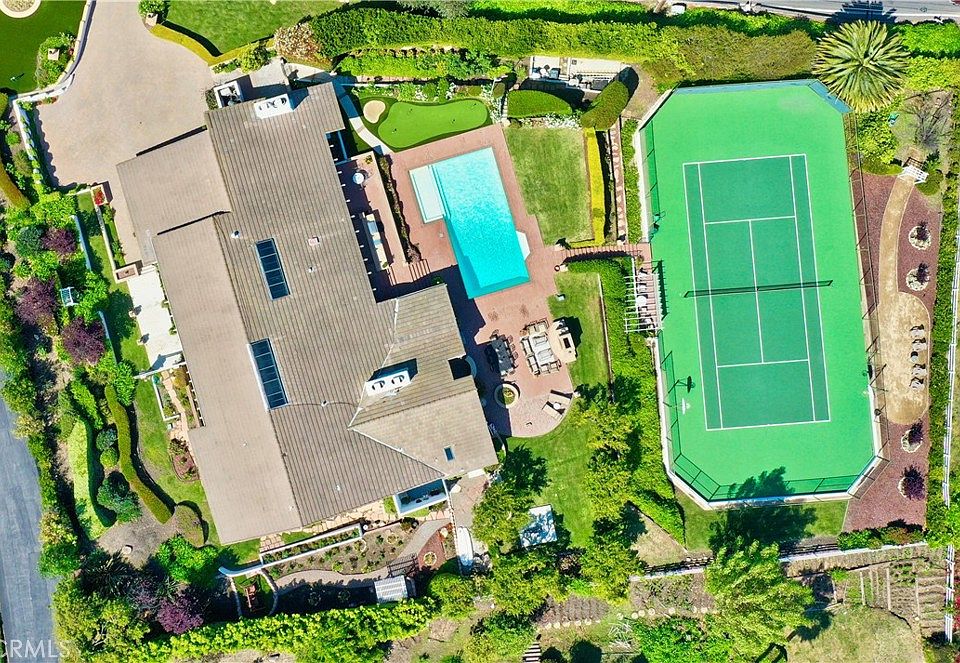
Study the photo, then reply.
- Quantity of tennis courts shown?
1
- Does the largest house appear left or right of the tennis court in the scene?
to the left of it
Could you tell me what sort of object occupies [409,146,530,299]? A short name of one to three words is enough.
swimming pool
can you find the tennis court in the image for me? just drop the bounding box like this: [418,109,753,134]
[641,88,875,501]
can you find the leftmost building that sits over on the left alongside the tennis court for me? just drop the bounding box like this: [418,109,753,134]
[115,82,497,545]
